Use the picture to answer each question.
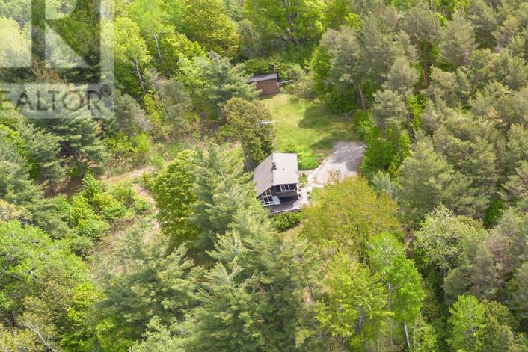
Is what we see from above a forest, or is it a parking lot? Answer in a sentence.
The picture captures a forest.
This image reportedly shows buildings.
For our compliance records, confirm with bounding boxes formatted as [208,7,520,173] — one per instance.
[253,152,305,216]
[246,70,282,98]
